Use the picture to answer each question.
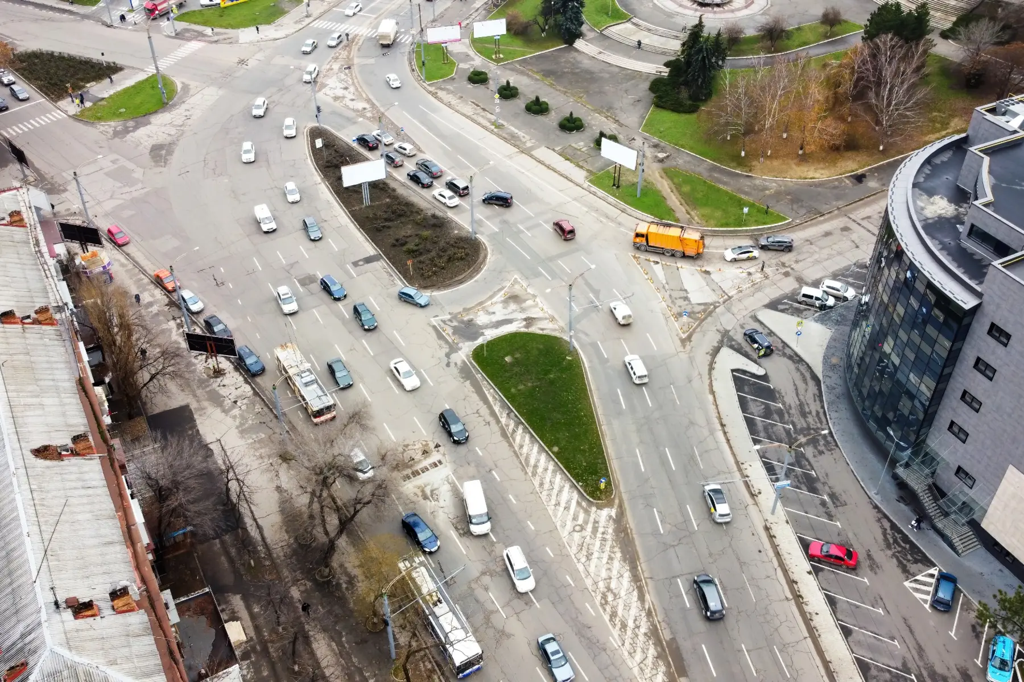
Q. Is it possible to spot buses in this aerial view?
Yes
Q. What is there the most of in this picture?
paved ground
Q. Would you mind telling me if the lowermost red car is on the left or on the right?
right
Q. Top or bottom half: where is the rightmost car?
bottom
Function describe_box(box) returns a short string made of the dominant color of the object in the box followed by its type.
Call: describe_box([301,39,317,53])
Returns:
white car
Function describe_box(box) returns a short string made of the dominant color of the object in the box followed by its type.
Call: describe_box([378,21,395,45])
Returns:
white vehicle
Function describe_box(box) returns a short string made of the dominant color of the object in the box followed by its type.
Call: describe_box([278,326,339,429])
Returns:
white bus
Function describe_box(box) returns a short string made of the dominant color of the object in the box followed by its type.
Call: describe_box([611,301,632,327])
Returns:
white vehicle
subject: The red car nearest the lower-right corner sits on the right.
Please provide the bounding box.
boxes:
[807,542,859,569]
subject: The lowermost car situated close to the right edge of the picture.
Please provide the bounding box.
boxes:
[988,633,1017,682]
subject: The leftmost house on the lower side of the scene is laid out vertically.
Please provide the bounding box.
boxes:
[0,192,197,682]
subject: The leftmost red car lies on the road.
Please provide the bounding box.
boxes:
[108,225,128,247]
